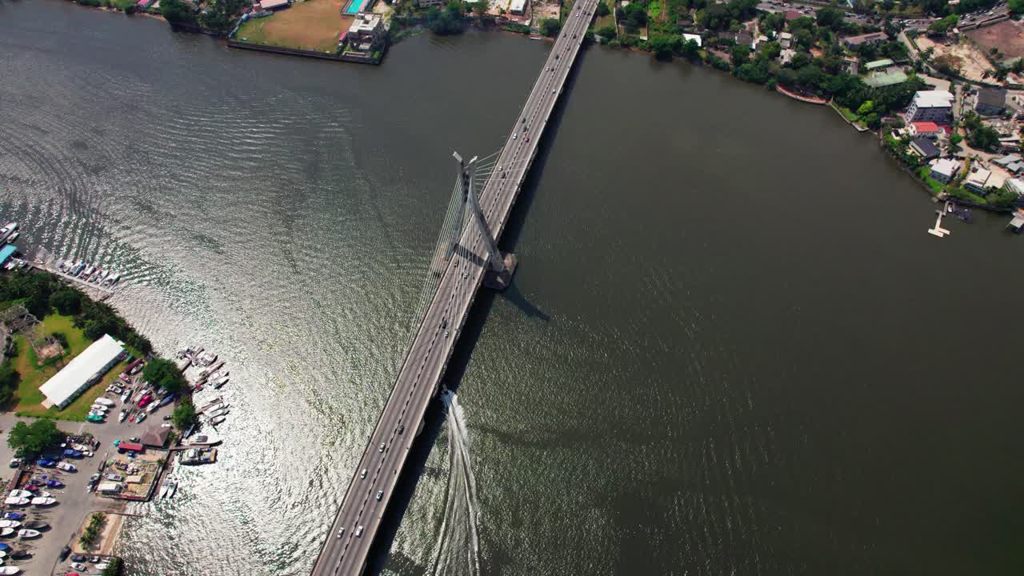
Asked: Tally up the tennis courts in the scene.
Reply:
none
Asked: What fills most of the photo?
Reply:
water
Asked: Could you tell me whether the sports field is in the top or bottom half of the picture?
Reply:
top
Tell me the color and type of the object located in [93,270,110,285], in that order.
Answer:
white boat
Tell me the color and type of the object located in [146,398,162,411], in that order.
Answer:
white boat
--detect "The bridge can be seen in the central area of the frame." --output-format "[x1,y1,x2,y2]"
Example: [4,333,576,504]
[311,0,598,576]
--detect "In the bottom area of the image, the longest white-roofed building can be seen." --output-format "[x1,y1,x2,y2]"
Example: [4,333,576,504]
[41,335,128,408]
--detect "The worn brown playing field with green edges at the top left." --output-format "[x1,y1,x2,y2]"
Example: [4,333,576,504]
[231,0,352,57]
